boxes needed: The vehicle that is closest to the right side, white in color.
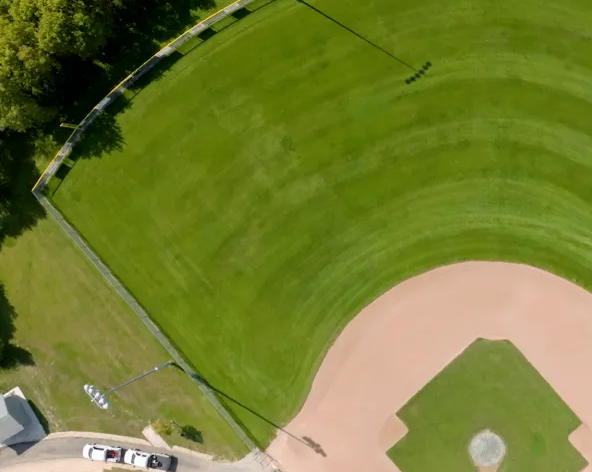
[127,448,175,468]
